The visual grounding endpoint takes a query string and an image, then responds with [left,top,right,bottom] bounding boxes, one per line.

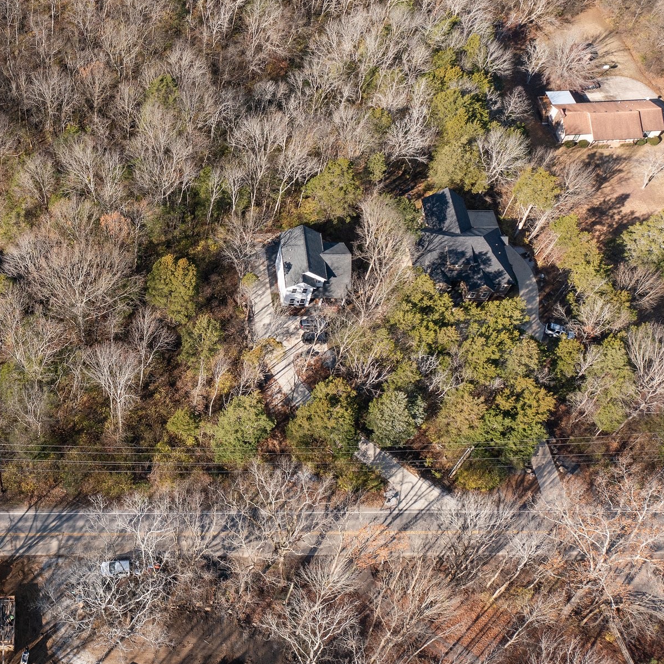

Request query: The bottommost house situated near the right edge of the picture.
[524,93,664,152]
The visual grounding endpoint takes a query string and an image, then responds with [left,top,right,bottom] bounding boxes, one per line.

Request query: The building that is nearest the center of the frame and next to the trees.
[273,224,353,309]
